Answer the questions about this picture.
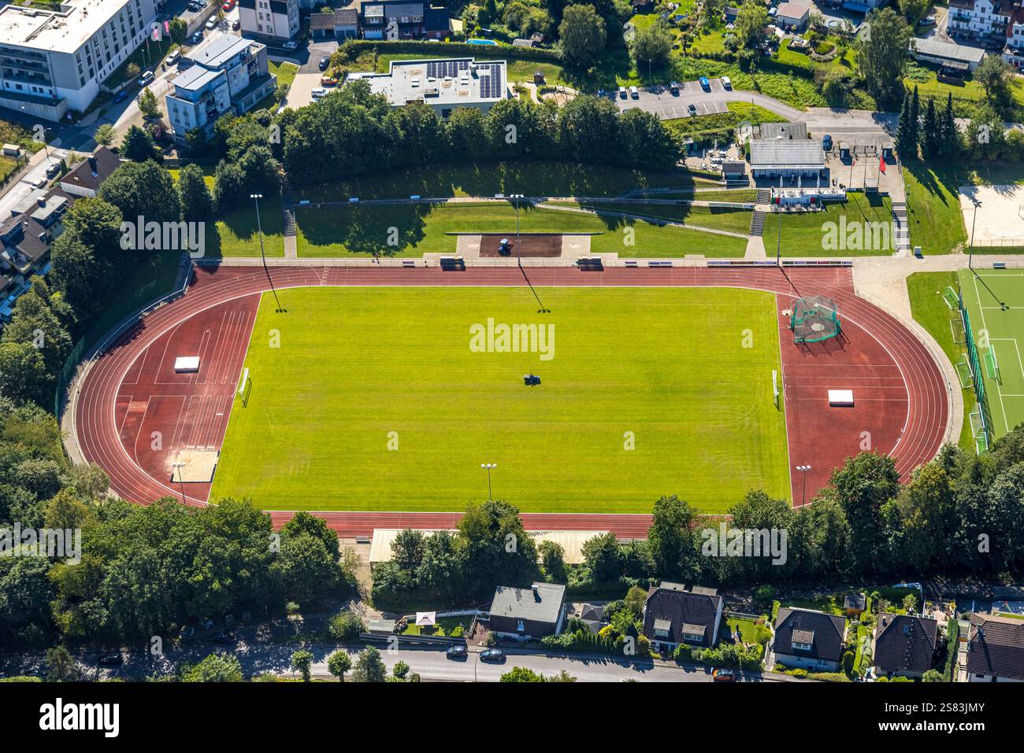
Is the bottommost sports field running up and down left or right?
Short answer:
right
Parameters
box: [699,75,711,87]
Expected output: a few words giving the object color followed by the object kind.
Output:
blue vehicle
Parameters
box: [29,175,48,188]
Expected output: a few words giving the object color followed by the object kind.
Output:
white vehicle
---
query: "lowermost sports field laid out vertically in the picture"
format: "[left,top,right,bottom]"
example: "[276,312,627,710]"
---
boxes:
[959,269,1024,435]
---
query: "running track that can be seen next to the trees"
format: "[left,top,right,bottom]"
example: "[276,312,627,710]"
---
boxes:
[76,266,947,540]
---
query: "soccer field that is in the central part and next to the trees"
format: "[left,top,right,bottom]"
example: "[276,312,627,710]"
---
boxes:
[209,286,792,514]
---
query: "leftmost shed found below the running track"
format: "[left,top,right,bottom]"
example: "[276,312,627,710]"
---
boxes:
[363,612,397,638]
